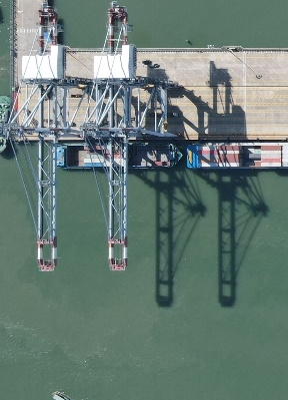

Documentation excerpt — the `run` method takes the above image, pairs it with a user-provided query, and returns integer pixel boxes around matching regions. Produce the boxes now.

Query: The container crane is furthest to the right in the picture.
[75,1,180,273]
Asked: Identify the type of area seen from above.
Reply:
port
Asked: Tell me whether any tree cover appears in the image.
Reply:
No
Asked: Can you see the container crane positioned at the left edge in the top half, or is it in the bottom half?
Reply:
top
